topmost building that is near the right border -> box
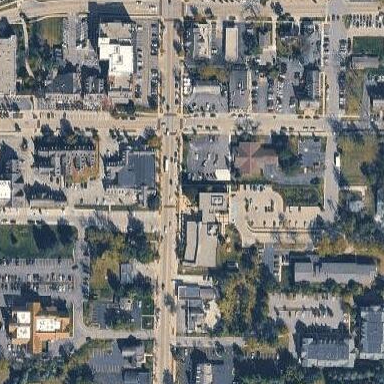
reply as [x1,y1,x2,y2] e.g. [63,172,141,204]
[352,56,379,68]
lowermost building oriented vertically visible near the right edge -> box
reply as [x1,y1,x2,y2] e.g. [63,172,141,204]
[360,307,384,360]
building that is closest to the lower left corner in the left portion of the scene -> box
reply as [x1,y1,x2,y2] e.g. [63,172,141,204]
[8,301,69,354]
